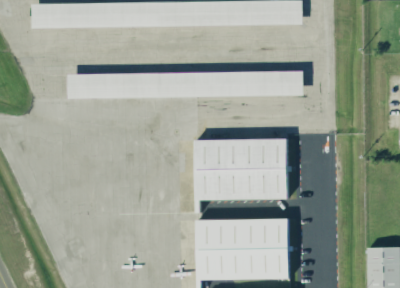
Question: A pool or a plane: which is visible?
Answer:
plane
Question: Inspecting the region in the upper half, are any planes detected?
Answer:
No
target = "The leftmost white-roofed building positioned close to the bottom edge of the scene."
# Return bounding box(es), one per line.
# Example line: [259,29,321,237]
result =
[196,218,294,288]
